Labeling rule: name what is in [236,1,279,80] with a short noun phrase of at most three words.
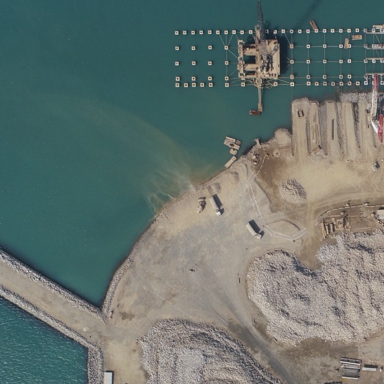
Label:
ship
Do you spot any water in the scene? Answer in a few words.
Yes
